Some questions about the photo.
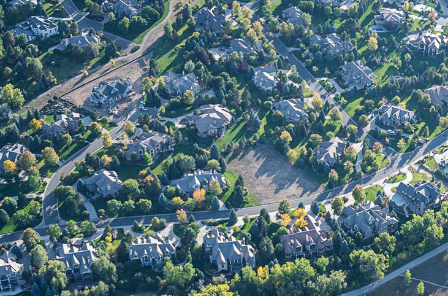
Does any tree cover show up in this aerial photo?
Yes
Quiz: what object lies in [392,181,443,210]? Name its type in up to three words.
house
